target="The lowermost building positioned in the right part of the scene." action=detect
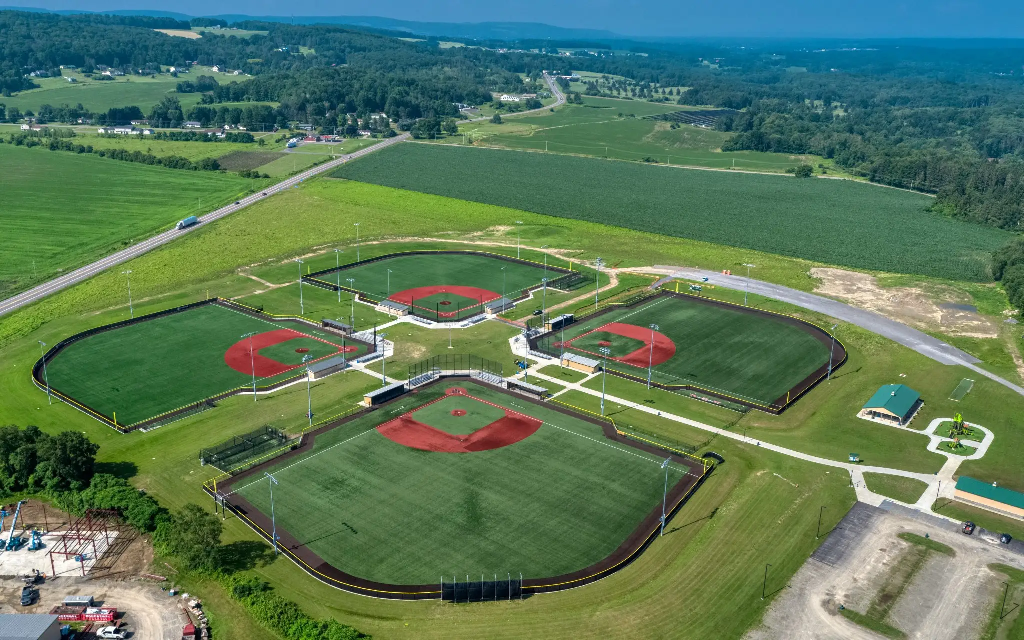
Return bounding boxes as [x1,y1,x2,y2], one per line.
[952,467,1024,519]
